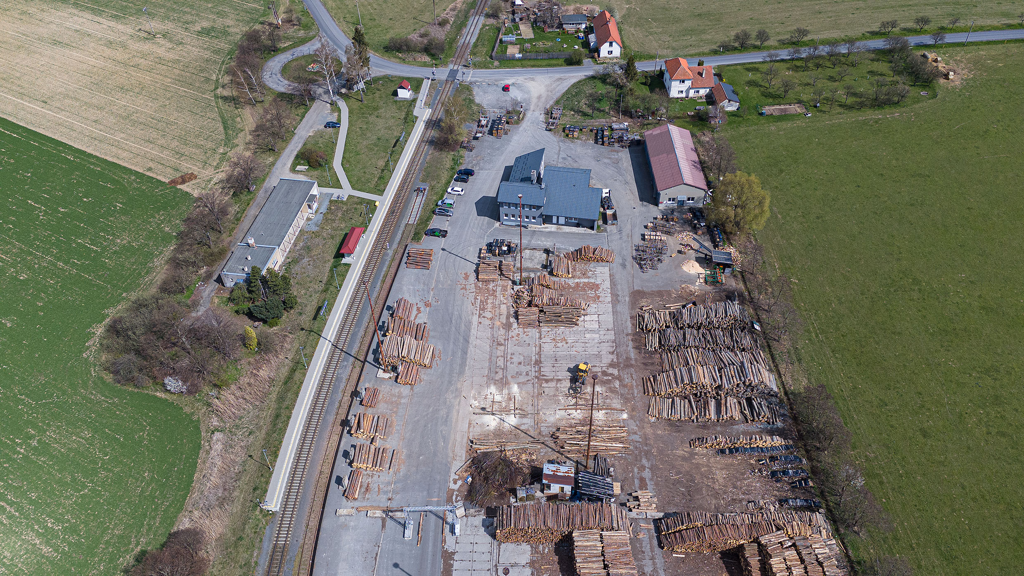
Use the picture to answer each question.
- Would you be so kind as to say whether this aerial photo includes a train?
No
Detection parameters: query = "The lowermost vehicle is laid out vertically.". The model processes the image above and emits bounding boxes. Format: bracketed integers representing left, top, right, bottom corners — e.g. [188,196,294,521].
[576,358,591,392]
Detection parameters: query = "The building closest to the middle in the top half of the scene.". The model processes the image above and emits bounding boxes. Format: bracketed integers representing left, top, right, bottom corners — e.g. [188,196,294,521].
[497,148,603,231]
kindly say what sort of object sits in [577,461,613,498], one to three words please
shed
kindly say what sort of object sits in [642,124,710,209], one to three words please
building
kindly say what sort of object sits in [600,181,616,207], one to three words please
vehicle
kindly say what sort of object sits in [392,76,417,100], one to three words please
house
